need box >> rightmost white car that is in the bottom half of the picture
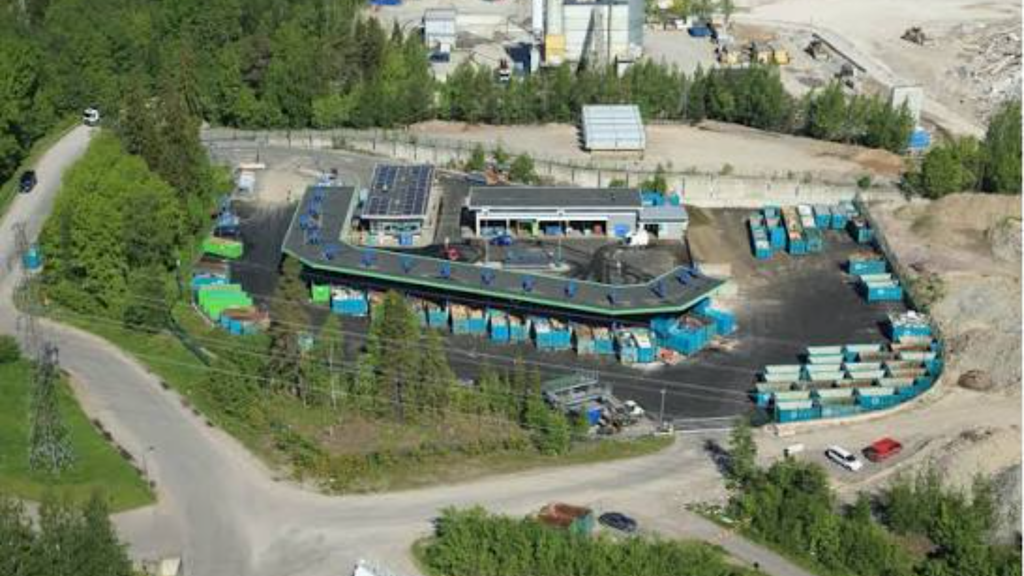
[823,443,864,471]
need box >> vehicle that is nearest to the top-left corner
[81,108,100,129]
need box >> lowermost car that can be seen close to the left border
[12,177,39,193]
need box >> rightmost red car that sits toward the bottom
[864,437,905,464]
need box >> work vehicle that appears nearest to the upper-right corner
[892,20,926,45]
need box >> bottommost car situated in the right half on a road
[598,510,640,535]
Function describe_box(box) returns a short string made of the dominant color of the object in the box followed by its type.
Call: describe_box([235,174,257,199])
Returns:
white truck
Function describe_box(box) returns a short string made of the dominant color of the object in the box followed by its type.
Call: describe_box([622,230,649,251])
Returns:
white truck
